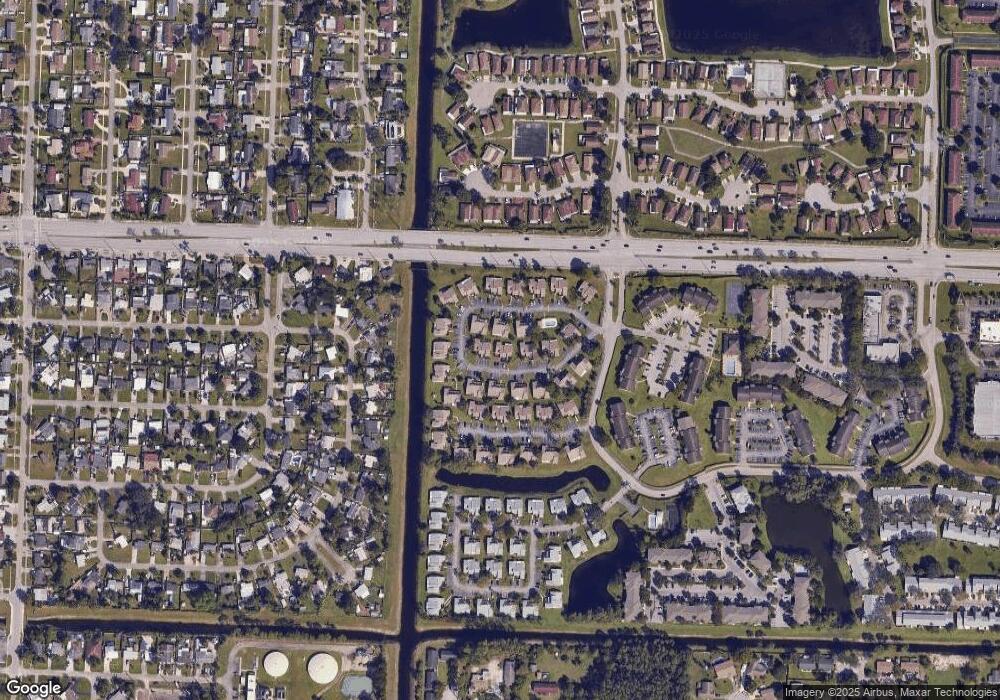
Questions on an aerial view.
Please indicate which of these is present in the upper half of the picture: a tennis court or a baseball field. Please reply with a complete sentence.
Looking in the upper half of the picture, you will find a tennis court.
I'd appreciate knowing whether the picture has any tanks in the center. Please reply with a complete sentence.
No, in the center there is no tank.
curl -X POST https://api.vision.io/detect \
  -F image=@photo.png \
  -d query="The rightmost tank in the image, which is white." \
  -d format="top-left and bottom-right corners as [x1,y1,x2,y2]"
[308,653,338,684]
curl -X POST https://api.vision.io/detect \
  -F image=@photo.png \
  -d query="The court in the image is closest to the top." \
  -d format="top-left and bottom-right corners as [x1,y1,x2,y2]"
[756,62,785,99]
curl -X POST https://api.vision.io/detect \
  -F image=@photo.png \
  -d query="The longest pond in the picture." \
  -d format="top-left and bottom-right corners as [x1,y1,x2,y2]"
[764,496,852,617]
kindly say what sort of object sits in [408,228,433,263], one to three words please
bridge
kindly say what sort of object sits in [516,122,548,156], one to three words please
sports court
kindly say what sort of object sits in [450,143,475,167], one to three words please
house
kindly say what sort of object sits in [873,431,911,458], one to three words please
building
